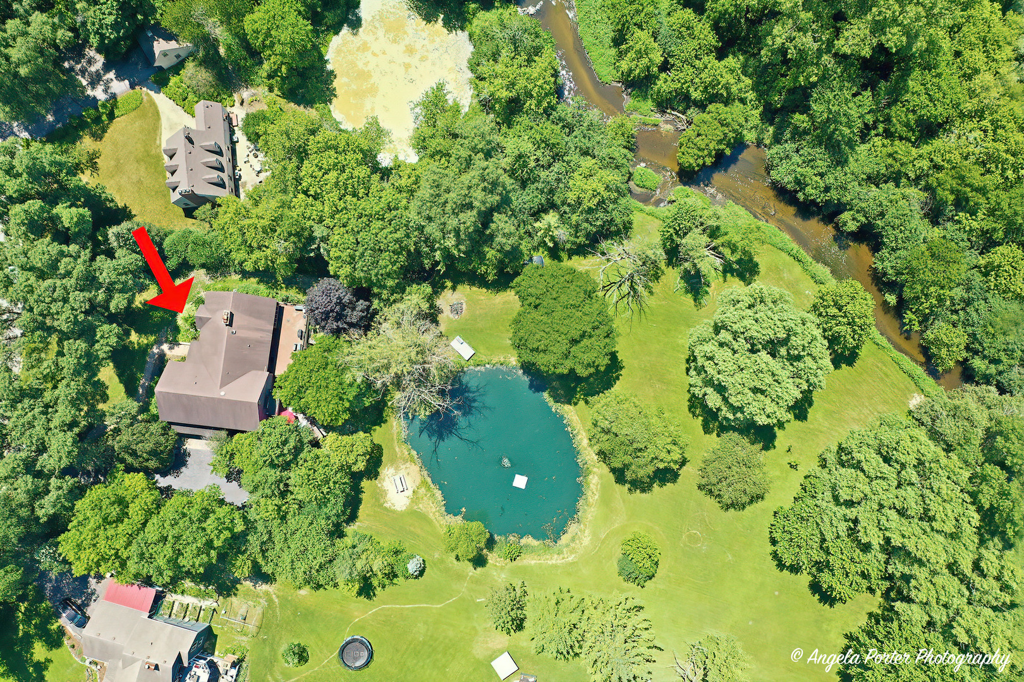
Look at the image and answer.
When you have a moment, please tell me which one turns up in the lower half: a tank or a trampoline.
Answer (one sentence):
What appears in the lower half is a trampoline.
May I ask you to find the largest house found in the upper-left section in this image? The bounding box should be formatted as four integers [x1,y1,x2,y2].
[162,98,238,206]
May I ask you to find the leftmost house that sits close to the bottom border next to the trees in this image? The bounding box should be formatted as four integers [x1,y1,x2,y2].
[83,572,208,682]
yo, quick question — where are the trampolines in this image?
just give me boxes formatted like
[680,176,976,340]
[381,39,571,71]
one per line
[337,633,374,674]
